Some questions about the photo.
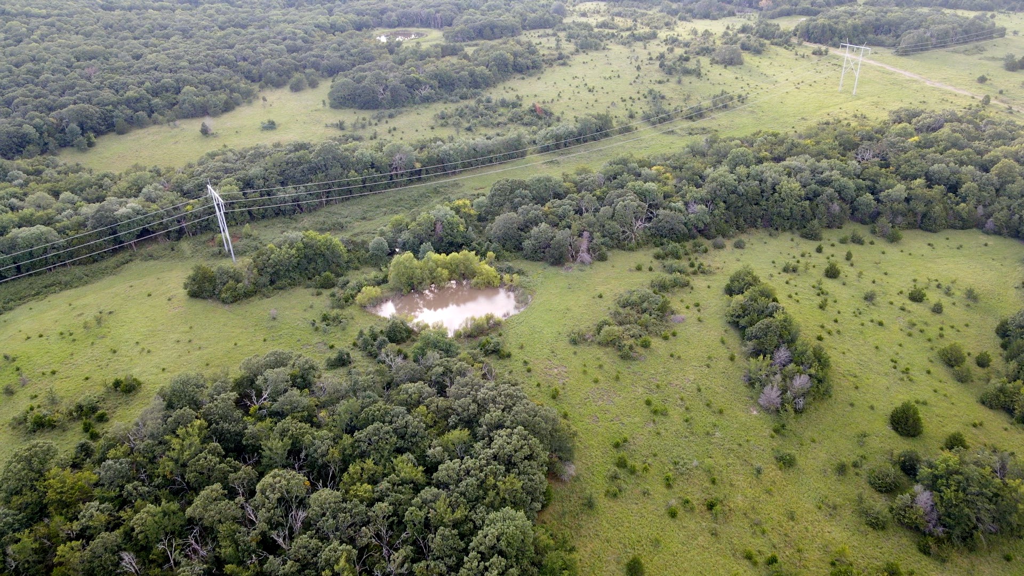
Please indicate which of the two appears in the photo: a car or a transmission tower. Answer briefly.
transmission tower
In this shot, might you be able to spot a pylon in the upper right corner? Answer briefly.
Yes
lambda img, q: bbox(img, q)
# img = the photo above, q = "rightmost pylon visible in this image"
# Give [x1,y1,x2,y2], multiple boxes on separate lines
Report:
[839,38,872,94]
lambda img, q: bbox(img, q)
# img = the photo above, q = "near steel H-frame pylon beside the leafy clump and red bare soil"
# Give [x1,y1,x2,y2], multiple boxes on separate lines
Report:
[205,178,236,261]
